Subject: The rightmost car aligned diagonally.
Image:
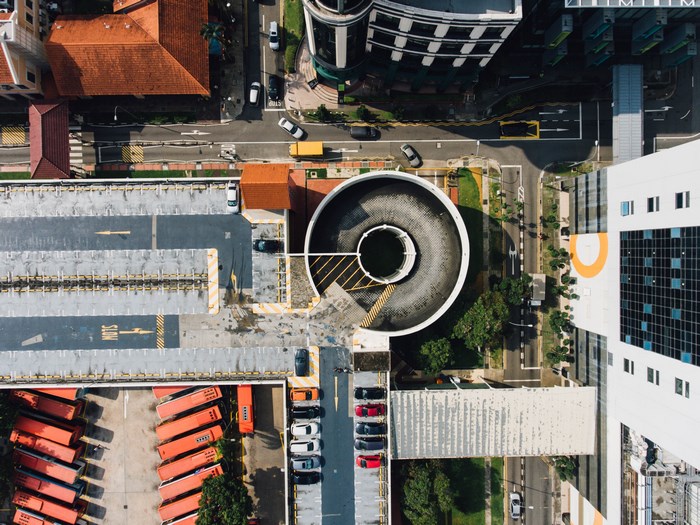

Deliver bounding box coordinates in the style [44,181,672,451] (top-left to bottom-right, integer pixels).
[400,142,421,168]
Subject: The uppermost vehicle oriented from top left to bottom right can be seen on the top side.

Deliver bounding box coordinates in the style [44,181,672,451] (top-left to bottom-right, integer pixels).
[278,118,304,141]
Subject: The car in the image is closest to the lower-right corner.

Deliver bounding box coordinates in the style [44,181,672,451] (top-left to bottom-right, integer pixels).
[509,489,521,518]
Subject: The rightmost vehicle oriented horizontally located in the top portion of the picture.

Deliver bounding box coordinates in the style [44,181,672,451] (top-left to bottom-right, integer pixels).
[502,124,530,136]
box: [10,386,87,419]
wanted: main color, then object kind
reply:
red bus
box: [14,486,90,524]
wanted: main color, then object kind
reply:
red bus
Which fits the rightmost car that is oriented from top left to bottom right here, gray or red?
gray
